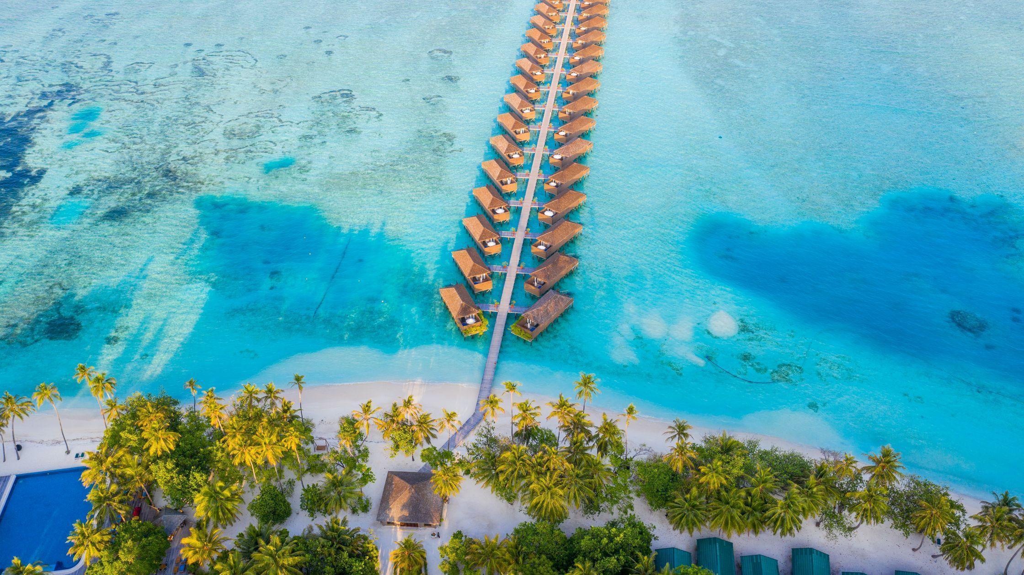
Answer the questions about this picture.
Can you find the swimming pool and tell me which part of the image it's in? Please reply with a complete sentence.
The swimming pool is located in the bottom left region of the scene.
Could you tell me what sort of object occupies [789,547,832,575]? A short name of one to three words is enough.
shed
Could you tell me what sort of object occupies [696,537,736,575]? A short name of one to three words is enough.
shed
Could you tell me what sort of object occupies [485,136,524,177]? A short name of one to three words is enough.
house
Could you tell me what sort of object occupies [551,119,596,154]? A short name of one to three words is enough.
house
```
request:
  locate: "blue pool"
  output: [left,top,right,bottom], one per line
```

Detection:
[0,465,108,575]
